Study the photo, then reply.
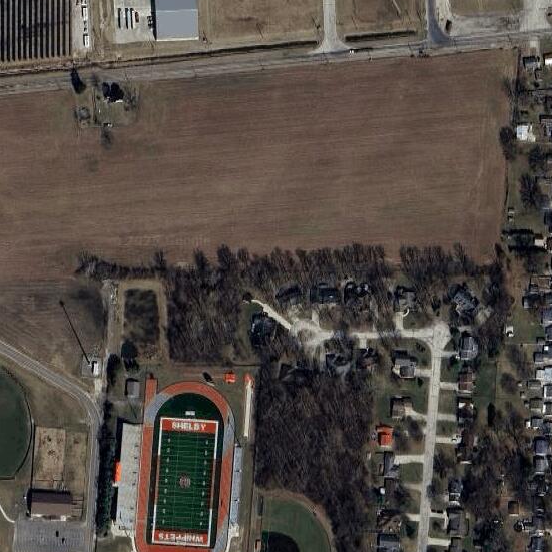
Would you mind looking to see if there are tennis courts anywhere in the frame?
No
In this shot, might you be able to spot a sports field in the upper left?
No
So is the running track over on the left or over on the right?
left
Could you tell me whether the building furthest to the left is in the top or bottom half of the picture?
bottom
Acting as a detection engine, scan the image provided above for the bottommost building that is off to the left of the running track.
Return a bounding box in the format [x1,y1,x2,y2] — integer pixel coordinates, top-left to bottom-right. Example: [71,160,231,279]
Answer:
[30,488,72,517]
